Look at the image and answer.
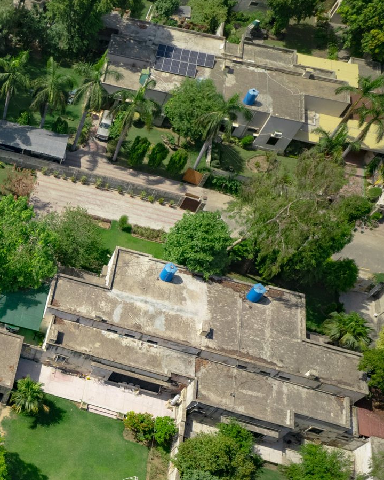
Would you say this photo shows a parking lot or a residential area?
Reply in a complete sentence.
This image shows a residential area.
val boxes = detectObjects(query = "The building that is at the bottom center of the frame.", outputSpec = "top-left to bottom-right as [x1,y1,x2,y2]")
[41,247,368,480]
